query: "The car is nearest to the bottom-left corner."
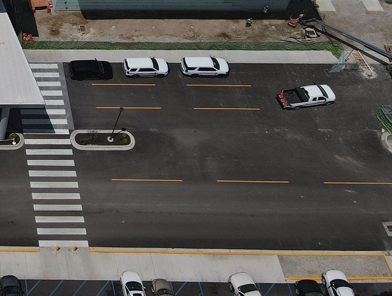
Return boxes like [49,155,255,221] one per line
[0,274,23,296]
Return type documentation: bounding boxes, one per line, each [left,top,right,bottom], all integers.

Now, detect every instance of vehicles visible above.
[151,278,179,296]
[121,57,172,81]
[294,279,324,296]
[321,267,362,296]
[0,274,23,296]
[276,84,337,112]
[67,59,116,83]
[180,56,231,81]
[227,271,257,296]
[119,270,145,296]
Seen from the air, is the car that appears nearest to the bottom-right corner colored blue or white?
white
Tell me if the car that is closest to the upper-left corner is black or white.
black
